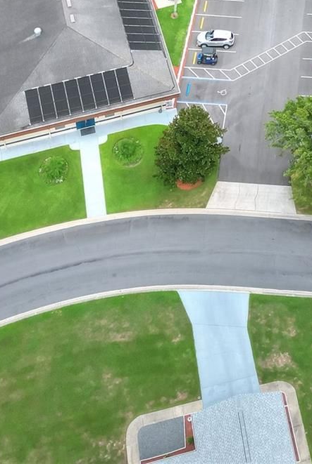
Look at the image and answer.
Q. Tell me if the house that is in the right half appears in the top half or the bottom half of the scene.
bottom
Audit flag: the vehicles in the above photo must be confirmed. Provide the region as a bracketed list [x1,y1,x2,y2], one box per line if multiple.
[197,46,219,66]
[197,31,236,49]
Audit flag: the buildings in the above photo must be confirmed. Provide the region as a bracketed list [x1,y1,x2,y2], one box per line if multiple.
[0,0,185,158]
[145,392,294,464]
